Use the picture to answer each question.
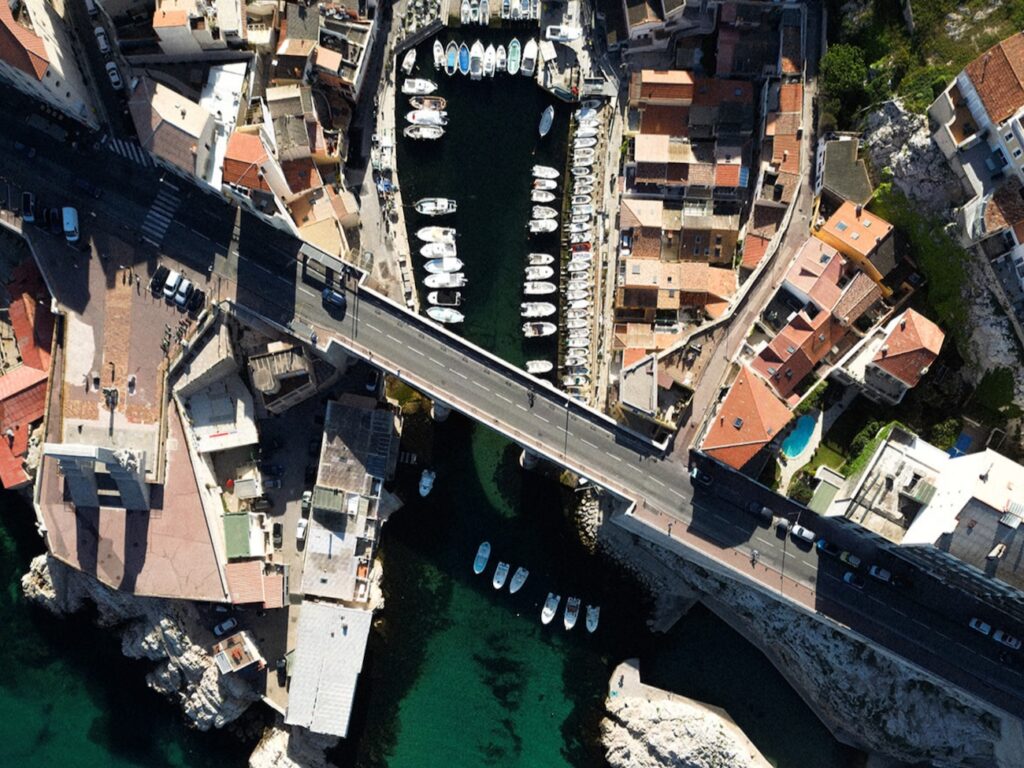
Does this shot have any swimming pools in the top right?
No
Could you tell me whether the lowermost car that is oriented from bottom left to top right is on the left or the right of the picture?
left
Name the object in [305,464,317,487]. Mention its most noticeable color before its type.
black vehicle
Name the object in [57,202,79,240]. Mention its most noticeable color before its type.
blue vehicle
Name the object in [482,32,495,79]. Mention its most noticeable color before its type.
white boat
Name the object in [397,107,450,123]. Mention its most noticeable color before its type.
white boat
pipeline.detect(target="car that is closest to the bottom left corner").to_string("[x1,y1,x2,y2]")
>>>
[212,616,237,637]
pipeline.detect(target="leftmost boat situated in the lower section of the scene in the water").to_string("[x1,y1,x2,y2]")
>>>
[419,466,435,496]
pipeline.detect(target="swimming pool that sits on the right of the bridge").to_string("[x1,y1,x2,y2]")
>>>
[779,413,819,461]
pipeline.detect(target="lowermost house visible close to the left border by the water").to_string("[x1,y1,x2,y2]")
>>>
[0,421,36,496]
